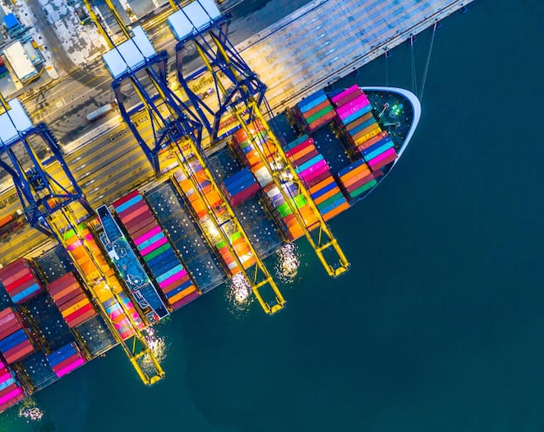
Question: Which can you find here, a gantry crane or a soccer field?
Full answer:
The one in the frame is a gantry crane.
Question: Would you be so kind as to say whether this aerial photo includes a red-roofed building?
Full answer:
No, there's no red-roofed building here.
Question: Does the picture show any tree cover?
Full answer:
No, there is no tree cover in the image.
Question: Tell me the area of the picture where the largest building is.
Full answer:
Look in the top left portion of the view to spot the largest building.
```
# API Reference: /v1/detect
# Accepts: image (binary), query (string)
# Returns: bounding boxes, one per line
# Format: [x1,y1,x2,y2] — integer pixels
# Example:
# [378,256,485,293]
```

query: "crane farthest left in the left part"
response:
[0,93,164,385]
